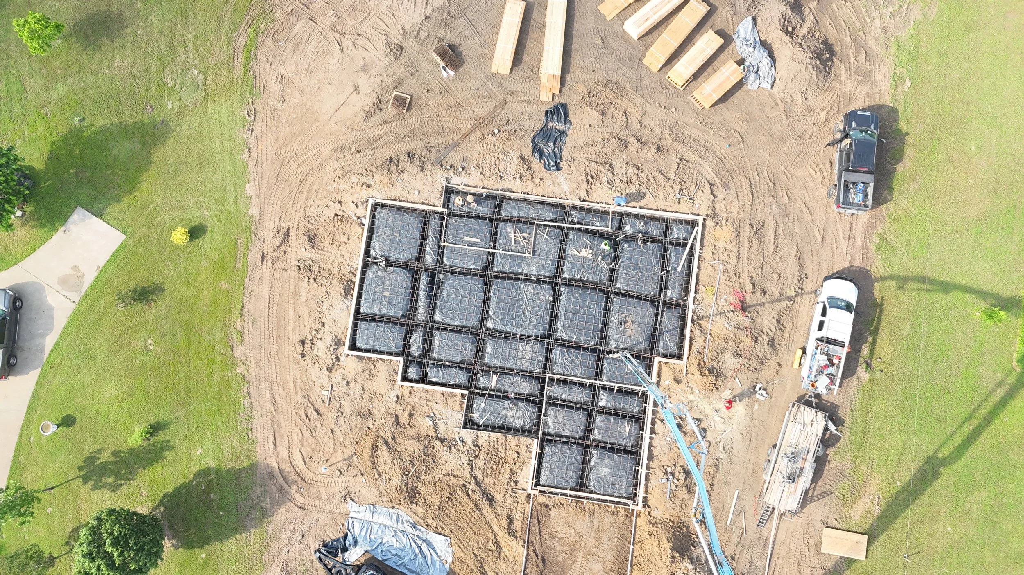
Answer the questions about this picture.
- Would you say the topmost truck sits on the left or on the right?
right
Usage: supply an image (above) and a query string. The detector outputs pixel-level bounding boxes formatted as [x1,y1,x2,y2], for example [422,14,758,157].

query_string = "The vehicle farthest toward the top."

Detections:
[817,108,885,214]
